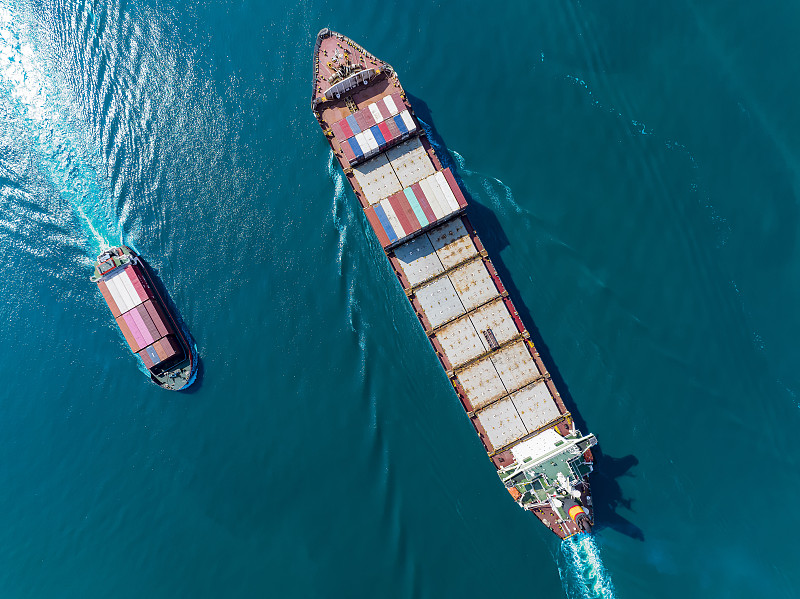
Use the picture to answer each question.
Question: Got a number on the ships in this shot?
2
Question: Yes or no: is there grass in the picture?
No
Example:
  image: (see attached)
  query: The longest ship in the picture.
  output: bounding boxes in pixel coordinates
[313,28,597,540]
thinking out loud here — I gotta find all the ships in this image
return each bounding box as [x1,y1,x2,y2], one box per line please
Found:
[88,243,193,390]
[313,28,597,540]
